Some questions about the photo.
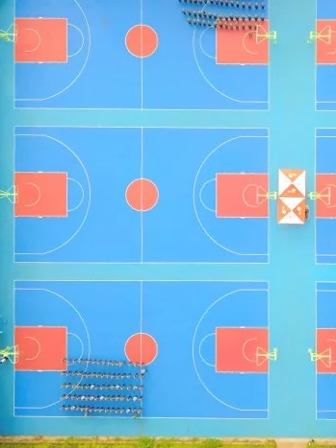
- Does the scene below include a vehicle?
No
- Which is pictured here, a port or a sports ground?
sports ground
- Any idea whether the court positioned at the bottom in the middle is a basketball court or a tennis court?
basketball court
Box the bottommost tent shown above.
[277,198,306,225]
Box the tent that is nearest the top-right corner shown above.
[278,169,306,198]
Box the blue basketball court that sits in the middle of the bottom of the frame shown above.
[14,281,269,420]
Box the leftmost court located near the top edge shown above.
[14,0,269,110]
